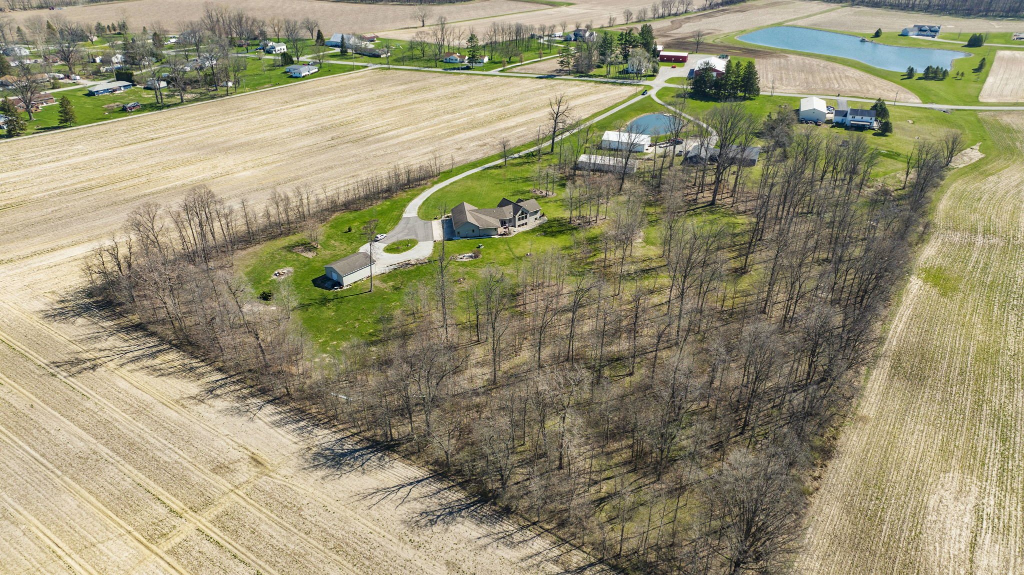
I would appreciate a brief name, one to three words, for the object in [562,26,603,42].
house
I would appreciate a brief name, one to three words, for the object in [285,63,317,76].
house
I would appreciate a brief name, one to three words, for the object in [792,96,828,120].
barn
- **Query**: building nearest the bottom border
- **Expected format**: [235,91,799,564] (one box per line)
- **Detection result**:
[322,250,378,285]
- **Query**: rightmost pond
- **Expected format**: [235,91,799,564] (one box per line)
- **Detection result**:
[738,26,968,72]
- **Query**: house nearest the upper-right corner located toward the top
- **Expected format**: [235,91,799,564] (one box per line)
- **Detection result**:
[896,21,941,36]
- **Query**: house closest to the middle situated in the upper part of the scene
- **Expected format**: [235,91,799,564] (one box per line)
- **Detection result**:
[451,194,543,237]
